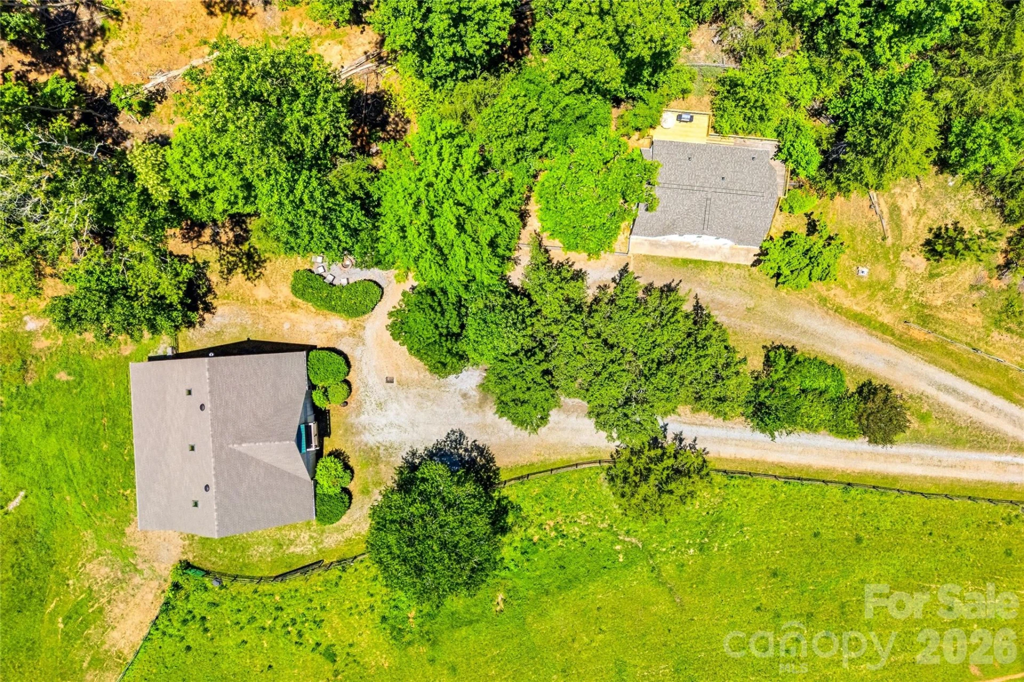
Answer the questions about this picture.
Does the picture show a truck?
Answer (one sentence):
No, there is no truck in the image.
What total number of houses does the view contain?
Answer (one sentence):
I count 2 houses.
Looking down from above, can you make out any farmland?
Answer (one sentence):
Yes, there is farmland in the image.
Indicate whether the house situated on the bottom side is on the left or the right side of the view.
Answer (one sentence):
The house situated on the bottom side appears in the left half of the scene.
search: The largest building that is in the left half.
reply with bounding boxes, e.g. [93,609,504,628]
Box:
[129,350,330,538]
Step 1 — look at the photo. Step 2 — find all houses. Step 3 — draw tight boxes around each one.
[631,109,790,248]
[129,350,330,538]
